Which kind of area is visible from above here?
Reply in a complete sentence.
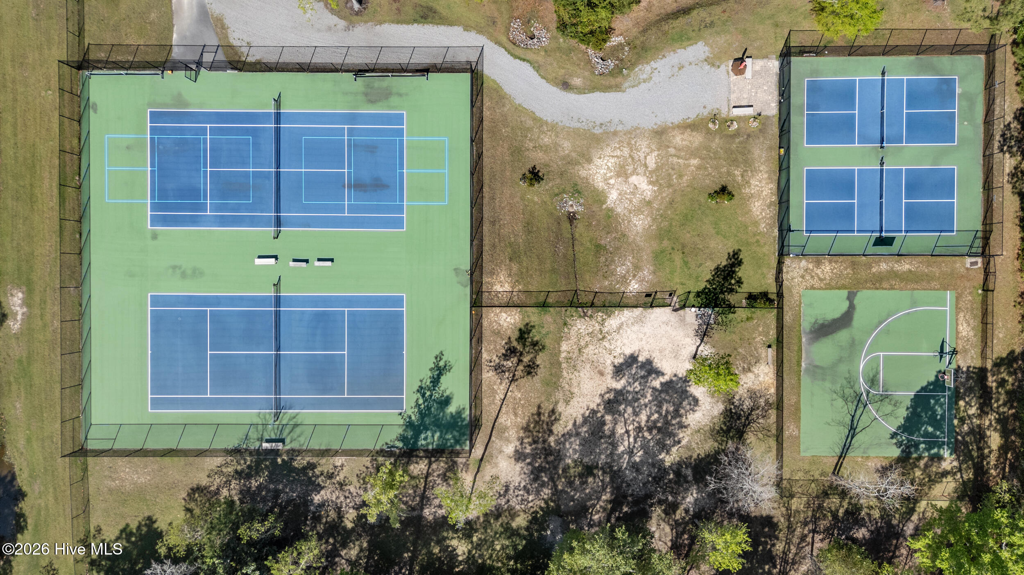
This looks like a sports ground.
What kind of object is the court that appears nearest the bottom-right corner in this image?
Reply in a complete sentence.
From above, the court that appears nearest the bottom-right corner can be identified as a basketball court.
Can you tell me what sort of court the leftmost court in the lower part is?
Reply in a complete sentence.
From above, the leftmost court in the lower part can be identified as a tennis court.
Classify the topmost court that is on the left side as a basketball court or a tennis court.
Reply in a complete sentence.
It looks like the topmost court that is on the left side is a tennis court.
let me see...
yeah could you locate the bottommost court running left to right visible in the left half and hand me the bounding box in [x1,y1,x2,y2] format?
[81,262,470,450]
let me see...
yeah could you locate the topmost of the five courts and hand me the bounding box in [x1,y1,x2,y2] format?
[779,55,985,156]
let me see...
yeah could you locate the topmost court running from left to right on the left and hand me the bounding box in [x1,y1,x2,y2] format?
[80,72,470,262]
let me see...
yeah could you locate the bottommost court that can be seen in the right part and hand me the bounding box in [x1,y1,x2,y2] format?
[801,290,956,457]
